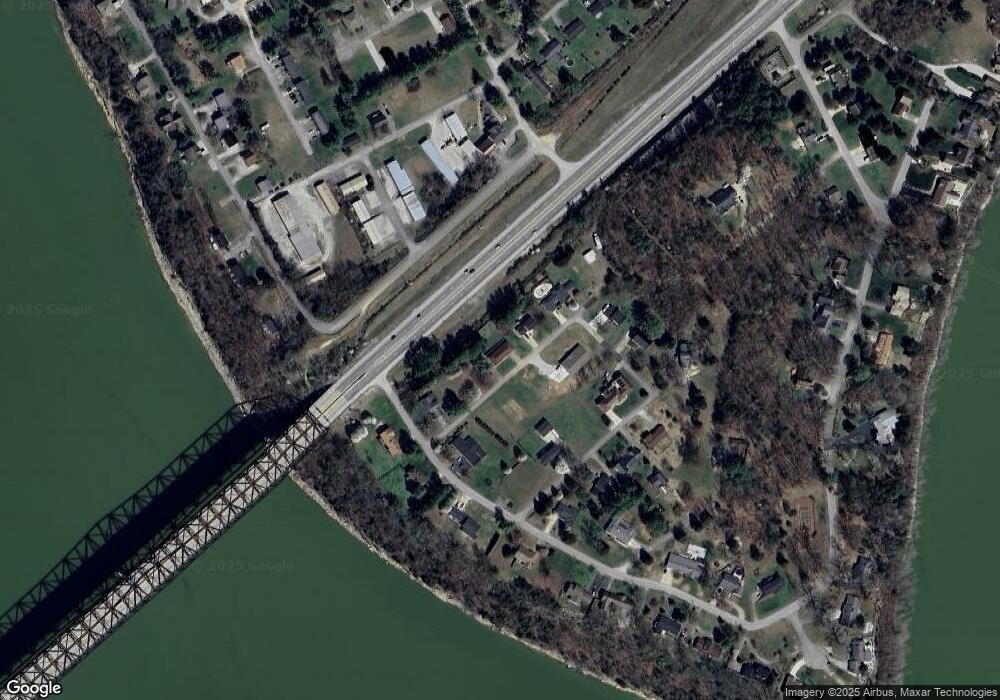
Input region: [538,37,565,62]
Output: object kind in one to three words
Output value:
house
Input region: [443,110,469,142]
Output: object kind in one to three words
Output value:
building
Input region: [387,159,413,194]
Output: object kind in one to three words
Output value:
building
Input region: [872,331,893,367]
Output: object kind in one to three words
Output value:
house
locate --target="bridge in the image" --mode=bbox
[0,396,333,700]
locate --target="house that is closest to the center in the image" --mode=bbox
[485,339,512,365]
